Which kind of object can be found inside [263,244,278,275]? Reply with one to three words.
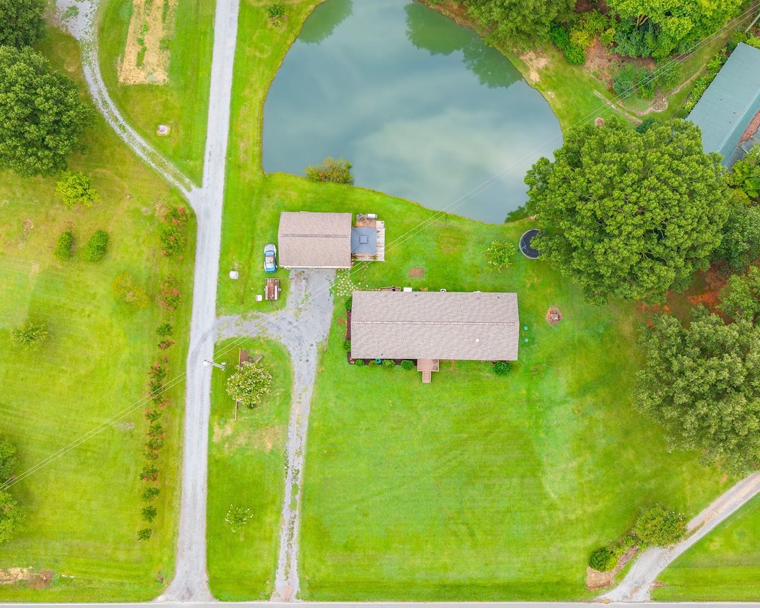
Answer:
car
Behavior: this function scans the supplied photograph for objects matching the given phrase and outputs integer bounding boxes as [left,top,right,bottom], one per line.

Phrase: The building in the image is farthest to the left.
[278,212,353,270]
